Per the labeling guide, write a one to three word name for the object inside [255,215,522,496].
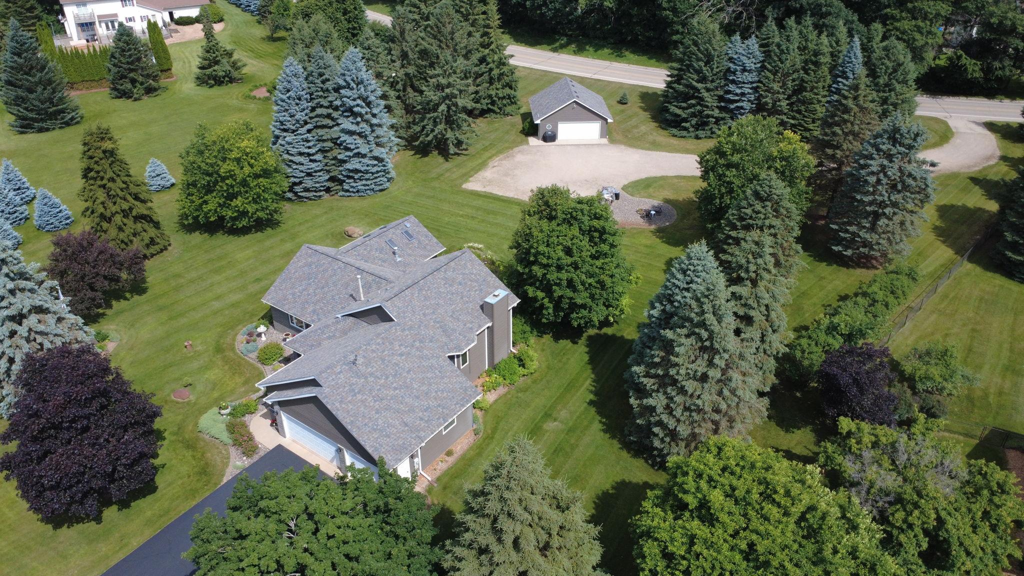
house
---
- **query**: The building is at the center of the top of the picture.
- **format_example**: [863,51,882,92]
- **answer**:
[529,77,615,141]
